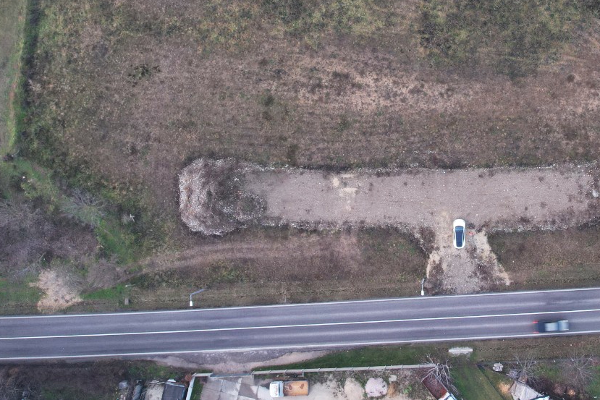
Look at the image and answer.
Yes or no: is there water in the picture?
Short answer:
No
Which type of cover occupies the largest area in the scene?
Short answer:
grass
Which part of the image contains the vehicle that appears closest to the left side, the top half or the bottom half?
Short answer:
bottom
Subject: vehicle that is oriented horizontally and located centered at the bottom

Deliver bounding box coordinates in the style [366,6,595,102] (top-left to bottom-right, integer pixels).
[268,380,310,400]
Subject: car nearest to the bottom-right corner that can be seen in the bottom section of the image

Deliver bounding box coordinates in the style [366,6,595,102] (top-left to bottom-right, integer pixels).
[536,320,569,336]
